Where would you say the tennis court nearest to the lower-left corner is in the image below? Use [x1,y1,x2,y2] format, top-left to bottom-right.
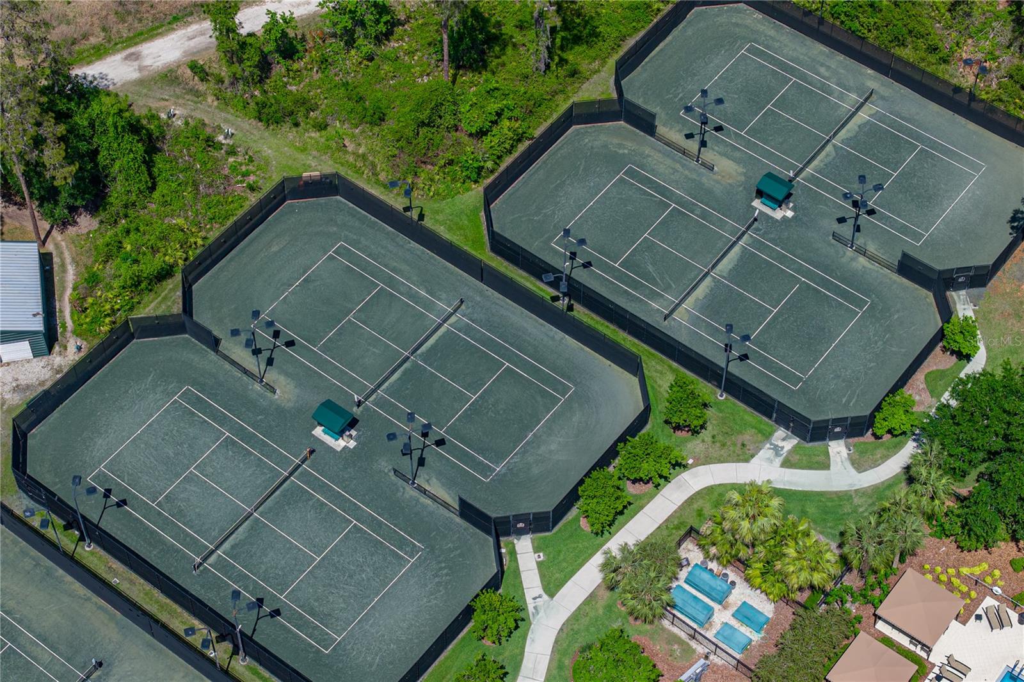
[0,524,211,682]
